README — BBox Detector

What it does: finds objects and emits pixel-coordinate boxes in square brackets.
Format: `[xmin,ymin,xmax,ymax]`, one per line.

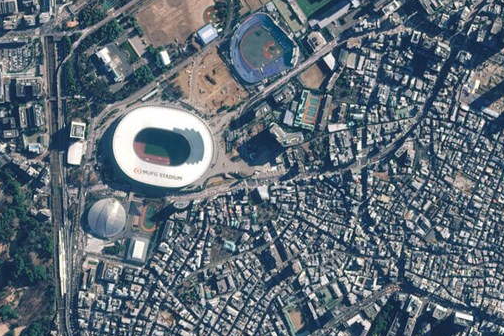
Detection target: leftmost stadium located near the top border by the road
[231,12,299,85]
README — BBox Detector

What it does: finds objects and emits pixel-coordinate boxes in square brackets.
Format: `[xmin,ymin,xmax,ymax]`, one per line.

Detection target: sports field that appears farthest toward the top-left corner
[144,132,182,159]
